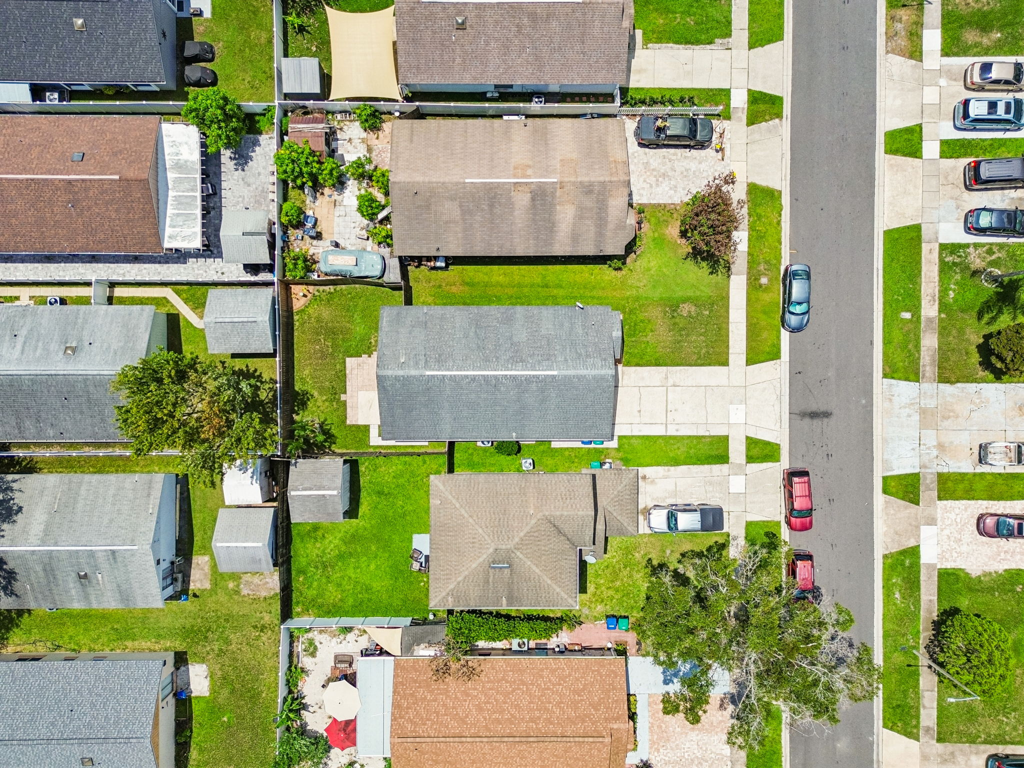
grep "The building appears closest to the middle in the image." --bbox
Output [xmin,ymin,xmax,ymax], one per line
[377,306,622,442]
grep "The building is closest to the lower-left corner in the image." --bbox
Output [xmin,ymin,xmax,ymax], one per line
[0,652,178,768]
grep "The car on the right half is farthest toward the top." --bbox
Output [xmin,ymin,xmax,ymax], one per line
[966,58,1024,94]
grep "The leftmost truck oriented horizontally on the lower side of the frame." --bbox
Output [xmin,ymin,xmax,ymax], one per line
[645,502,724,536]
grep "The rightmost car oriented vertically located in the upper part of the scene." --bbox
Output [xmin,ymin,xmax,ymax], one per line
[779,263,814,334]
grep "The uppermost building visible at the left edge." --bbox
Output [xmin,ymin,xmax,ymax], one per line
[0,0,178,92]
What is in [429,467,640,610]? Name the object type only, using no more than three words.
house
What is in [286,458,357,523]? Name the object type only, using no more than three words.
shed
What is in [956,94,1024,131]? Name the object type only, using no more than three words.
car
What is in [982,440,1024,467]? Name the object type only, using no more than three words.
truck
